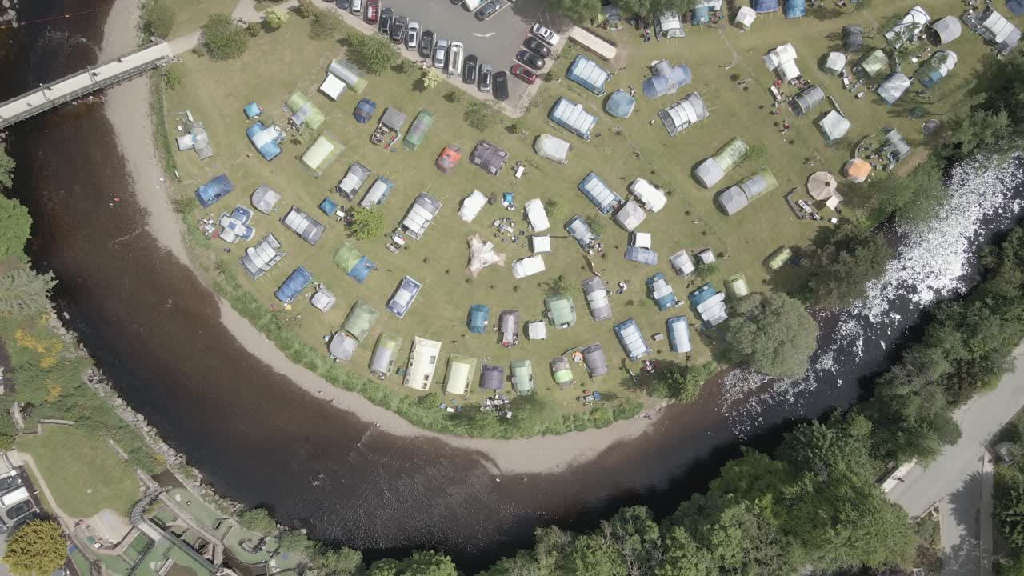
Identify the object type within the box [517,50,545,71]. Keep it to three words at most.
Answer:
car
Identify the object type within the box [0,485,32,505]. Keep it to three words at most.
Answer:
vehicle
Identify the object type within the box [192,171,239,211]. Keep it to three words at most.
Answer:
tent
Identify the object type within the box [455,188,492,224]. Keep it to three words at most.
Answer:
tent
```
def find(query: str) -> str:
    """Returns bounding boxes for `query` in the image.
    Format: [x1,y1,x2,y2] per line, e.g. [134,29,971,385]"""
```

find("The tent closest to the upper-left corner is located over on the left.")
[179,121,215,161]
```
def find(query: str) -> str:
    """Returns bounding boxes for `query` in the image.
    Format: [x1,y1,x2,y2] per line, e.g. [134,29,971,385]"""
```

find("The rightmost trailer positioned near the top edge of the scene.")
[567,24,615,61]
